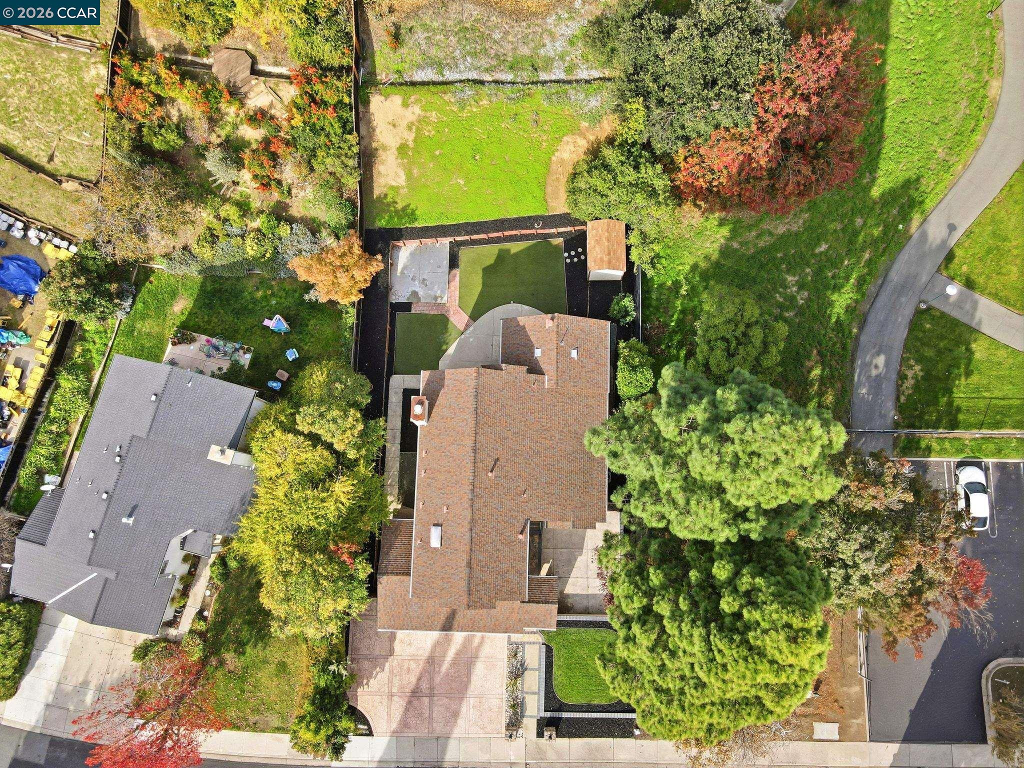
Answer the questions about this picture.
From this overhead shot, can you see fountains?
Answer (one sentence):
No, there is no fountain in the image.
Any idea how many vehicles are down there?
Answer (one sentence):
In total, there is 1 vehicle in the scene.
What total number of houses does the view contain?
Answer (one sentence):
The count of houses comes to 2.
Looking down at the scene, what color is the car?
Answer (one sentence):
From above, the car appears white.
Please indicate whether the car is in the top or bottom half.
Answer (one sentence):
The bottom half of the photo is where the car is.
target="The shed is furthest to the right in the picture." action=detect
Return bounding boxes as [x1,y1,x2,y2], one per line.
[584,219,626,282]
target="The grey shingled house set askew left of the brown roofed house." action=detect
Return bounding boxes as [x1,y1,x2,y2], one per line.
[11,355,269,635]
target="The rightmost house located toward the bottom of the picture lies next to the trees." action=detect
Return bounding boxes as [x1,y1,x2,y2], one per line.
[377,314,612,635]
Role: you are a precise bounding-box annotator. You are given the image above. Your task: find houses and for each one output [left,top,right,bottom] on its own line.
[377,314,612,635]
[11,355,269,635]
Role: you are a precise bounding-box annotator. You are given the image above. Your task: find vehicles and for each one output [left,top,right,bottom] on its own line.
[954,466,994,534]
